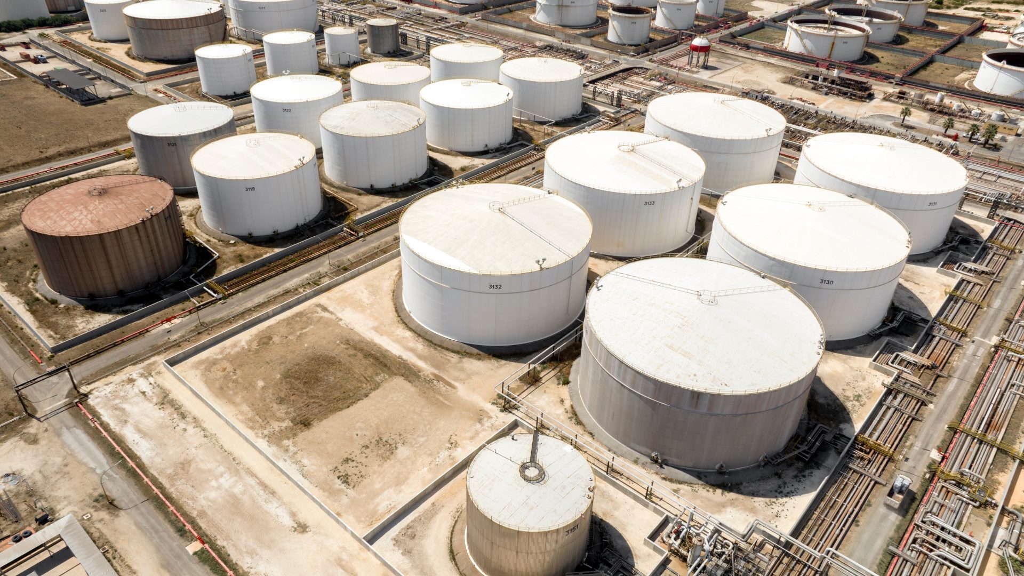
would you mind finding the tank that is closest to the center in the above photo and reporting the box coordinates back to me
[394,178,597,351]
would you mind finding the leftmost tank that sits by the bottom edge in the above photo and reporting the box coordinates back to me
[450,418,603,576]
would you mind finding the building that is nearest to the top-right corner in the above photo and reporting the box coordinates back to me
[980,120,1023,142]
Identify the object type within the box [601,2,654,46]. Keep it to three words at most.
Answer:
storage tank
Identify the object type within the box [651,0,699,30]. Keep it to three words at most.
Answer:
storage tank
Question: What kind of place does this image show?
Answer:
industrial area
